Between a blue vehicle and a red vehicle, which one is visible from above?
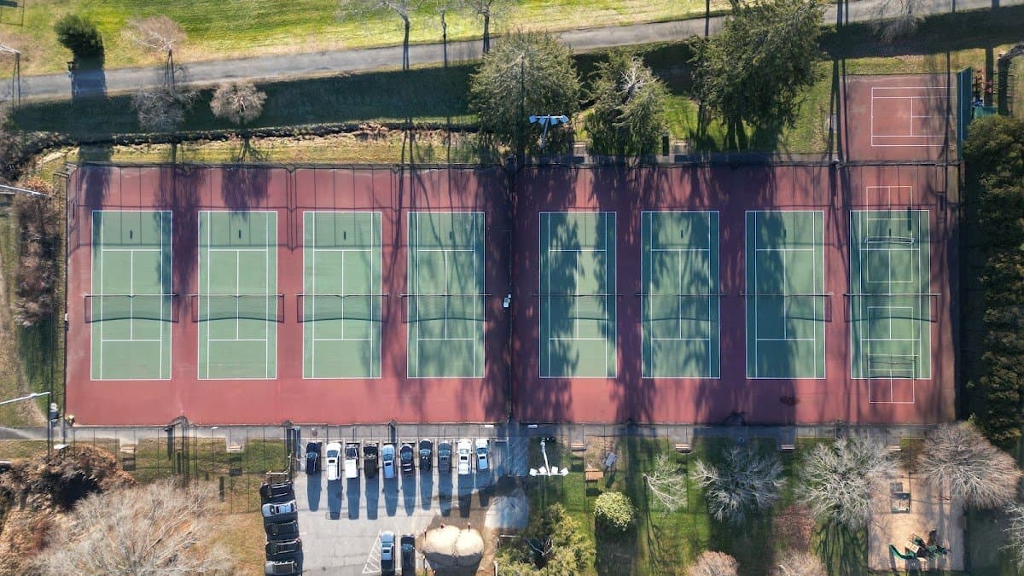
blue vehicle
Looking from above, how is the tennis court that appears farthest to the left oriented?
up and down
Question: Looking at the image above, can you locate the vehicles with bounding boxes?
[474,437,490,470]
[305,440,322,475]
[417,438,433,471]
[399,443,415,477]
[267,536,303,556]
[344,441,360,479]
[436,439,452,474]
[362,442,379,479]
[266,518,302,537]
[381,443,397,478]
[325,441,343,480]
[260,482,297,501]
[263,500,299,520]
[456,438,472,475]
[400,536,417,573]
[267,555,305,575]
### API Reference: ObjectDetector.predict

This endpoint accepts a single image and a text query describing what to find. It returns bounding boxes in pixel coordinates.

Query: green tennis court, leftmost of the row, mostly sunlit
[92,211,171,380]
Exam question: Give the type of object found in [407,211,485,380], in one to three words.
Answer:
tennis court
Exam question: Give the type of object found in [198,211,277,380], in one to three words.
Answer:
tennis court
